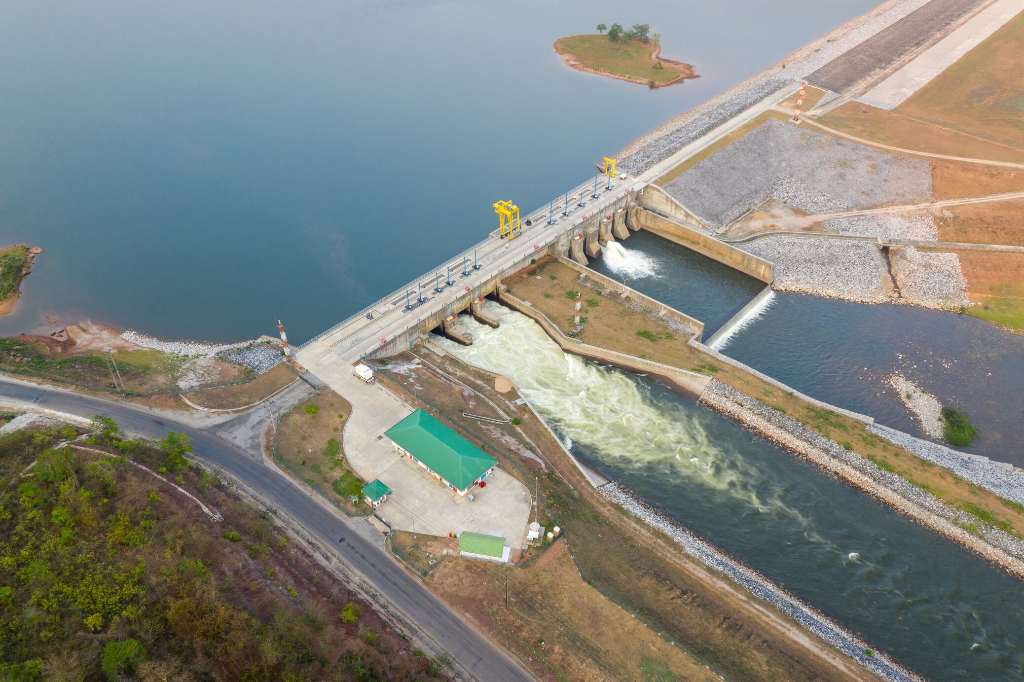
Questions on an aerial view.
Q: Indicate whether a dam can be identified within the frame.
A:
Yes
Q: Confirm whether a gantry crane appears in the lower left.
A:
No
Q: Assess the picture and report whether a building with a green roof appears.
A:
Yes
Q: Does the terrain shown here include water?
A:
Yes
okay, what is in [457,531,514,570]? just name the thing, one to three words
shed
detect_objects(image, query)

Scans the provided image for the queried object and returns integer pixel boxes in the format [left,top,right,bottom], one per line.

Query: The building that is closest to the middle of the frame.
[383,409,498,500]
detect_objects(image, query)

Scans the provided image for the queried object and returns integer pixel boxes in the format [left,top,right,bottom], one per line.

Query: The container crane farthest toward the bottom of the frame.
[494,197,523,240]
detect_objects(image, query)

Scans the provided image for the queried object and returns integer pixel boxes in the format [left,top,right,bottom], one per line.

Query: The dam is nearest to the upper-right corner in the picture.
[704,284,781,351]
